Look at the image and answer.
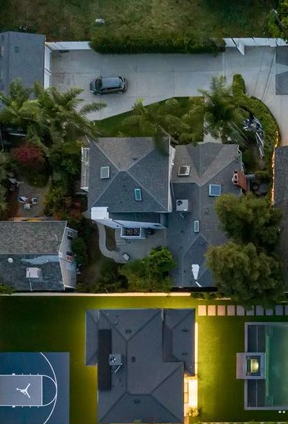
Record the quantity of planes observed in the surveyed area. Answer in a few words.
zero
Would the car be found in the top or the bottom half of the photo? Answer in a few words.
top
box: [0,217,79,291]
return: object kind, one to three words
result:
house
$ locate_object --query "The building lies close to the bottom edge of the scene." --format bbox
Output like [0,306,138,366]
[84,308,196,424]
